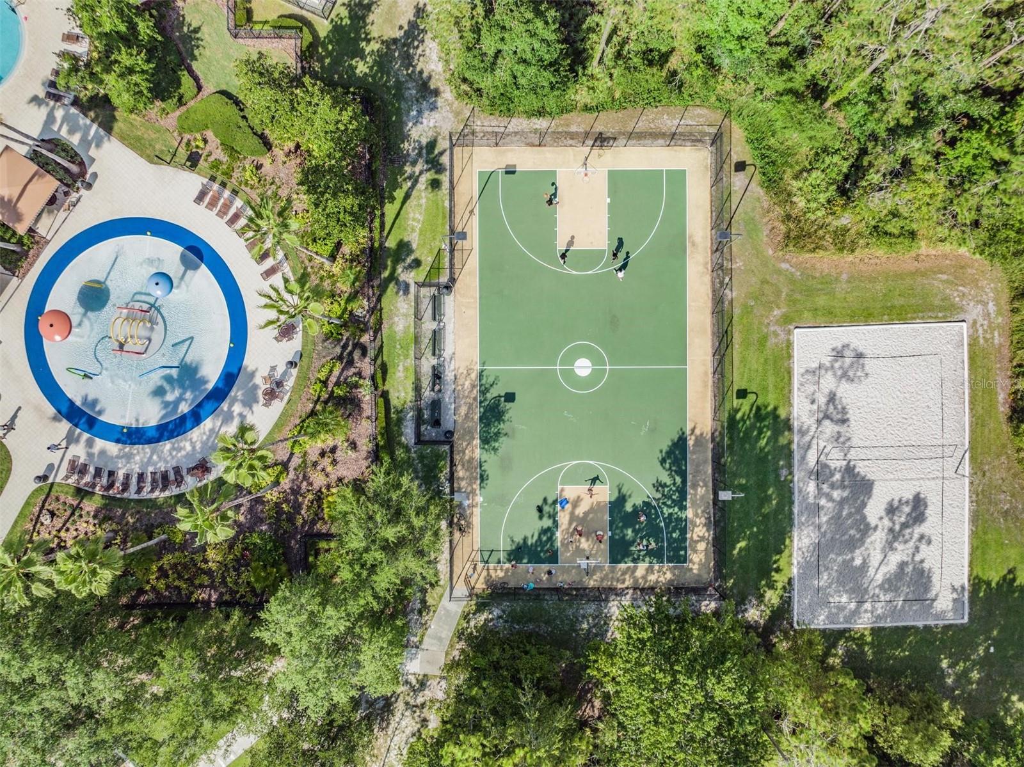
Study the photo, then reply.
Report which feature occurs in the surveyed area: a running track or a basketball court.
basketball court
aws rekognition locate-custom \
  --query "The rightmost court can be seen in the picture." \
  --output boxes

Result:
[795,322,970,627]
